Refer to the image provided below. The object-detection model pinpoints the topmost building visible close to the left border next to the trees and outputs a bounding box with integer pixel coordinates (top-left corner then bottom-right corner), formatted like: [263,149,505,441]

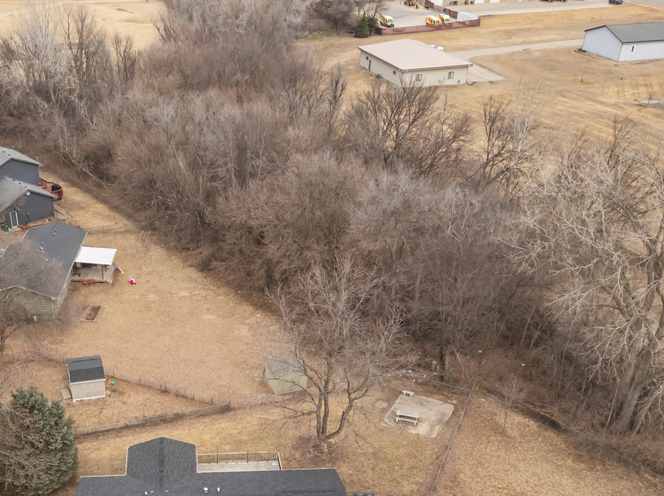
[0,147,70,230]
